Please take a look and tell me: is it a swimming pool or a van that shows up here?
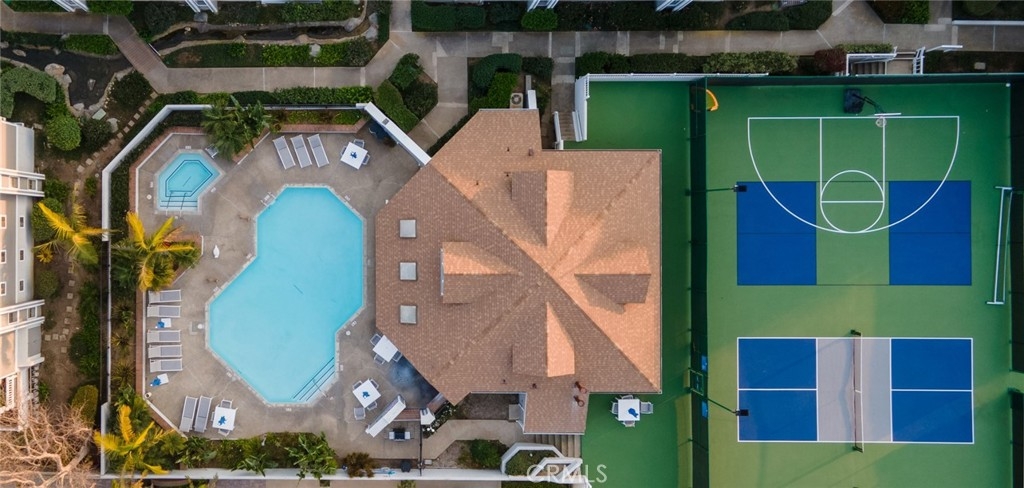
swimming pool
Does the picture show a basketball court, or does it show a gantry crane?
basketball court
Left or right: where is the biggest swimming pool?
left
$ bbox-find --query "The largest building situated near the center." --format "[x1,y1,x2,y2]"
[376,108,662,436]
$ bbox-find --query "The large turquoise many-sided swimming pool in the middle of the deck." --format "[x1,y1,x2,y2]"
[203,183,368,408]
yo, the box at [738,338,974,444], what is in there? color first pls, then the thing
blue sports court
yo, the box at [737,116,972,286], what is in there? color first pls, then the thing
blue basketball court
